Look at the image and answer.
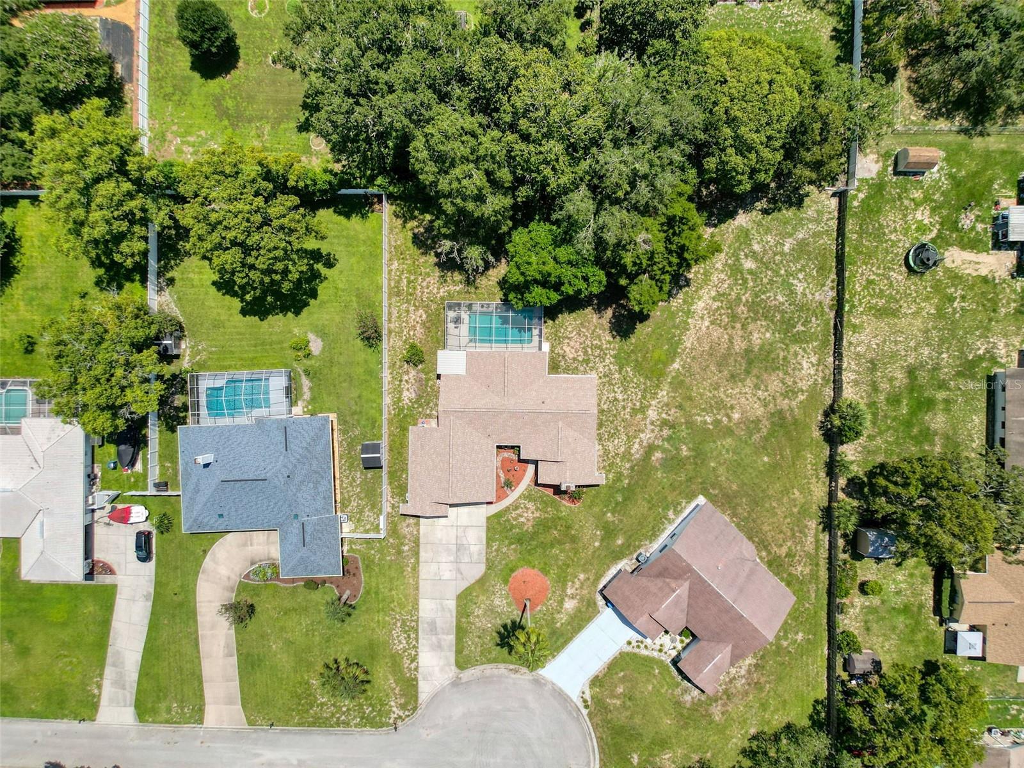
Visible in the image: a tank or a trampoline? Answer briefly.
trampoline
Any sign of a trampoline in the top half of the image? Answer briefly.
Yes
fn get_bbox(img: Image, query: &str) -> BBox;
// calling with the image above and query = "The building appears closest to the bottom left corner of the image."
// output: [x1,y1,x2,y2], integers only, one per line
[0,418,94,582]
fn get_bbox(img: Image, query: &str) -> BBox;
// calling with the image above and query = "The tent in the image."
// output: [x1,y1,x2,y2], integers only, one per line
[942,624,979,656]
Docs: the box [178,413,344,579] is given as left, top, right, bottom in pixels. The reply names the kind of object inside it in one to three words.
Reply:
house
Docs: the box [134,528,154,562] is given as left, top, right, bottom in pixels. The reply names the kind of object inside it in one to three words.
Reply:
car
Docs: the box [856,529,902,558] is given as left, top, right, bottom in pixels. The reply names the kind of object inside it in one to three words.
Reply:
shed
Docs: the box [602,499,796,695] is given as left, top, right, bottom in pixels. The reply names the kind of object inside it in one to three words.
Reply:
house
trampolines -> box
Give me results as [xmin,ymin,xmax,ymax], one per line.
[905,239,945,273]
